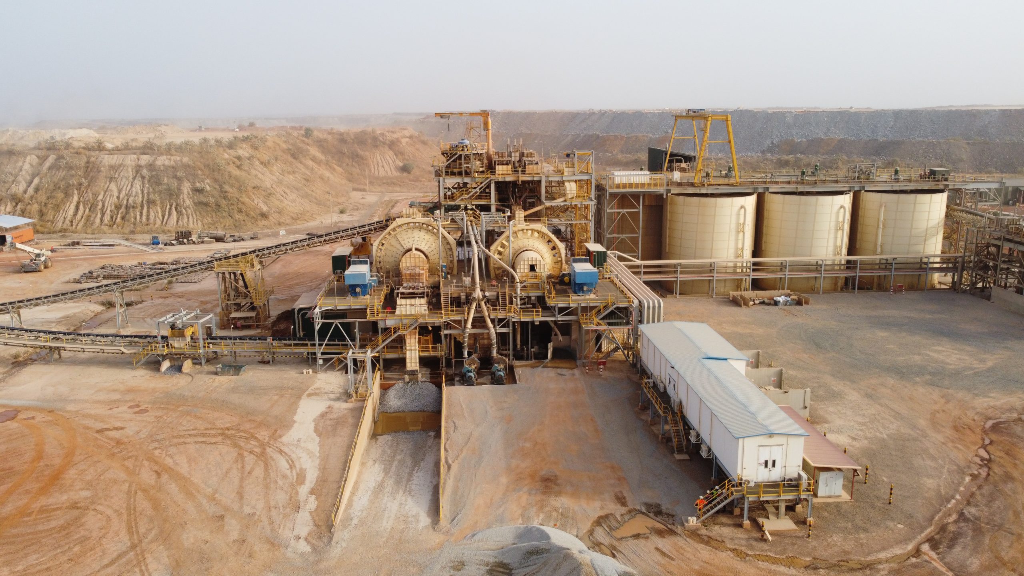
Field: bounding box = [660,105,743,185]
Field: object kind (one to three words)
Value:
container crane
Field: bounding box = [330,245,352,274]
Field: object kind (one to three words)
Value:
shed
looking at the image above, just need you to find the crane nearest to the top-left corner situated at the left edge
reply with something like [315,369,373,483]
[0,234,67,272]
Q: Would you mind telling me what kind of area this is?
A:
industrial area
